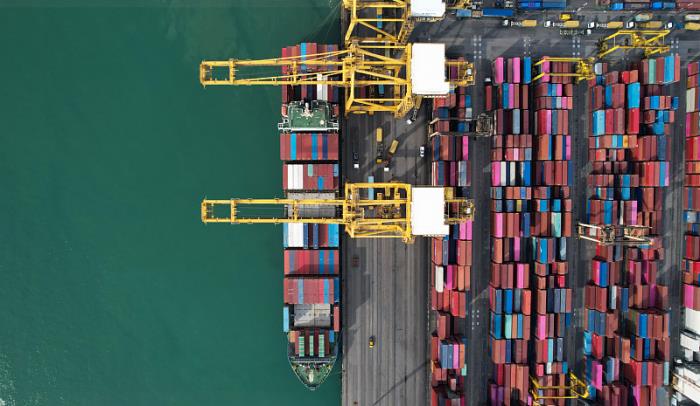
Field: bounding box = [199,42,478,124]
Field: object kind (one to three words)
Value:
container crane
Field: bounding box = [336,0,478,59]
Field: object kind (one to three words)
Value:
container crane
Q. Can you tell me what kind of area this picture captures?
port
